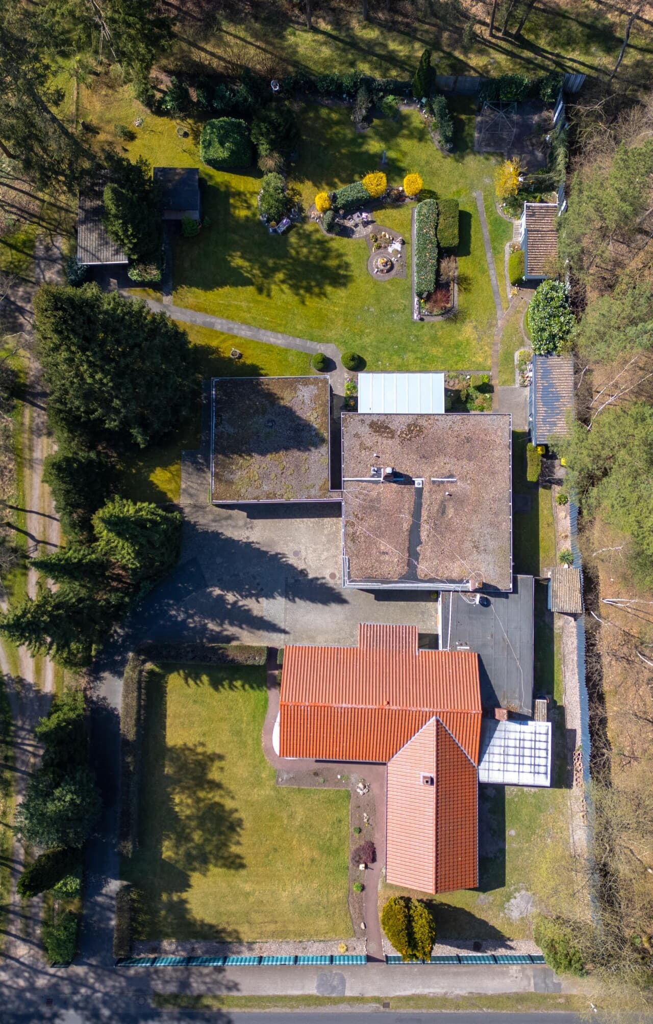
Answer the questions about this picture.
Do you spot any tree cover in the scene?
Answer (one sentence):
Yes, tree cover shows up in the scene.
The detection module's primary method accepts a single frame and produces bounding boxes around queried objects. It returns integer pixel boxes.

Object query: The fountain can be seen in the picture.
[374,254,392,272]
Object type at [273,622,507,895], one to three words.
house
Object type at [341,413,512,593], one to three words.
house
